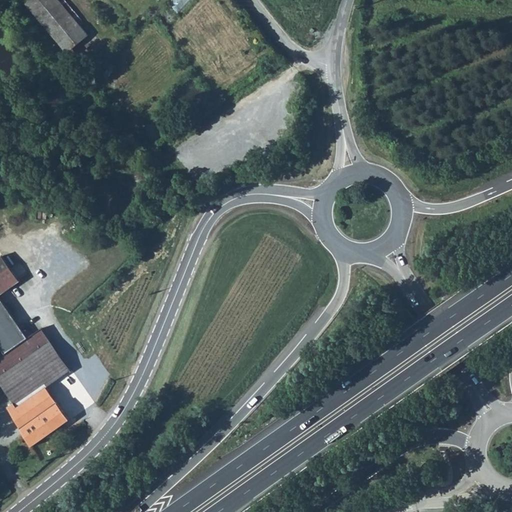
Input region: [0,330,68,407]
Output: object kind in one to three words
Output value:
barn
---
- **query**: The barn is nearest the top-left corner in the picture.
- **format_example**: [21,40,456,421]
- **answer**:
[24,0,86,50]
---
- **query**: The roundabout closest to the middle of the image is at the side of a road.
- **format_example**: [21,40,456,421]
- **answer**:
[279,148,442,281]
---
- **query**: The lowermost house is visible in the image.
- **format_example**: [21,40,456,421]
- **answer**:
[3,387,67,448]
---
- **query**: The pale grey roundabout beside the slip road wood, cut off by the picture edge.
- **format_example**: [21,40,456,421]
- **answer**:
[466,400,512,495]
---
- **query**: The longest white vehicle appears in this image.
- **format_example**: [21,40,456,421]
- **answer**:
[322,427,347,446]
